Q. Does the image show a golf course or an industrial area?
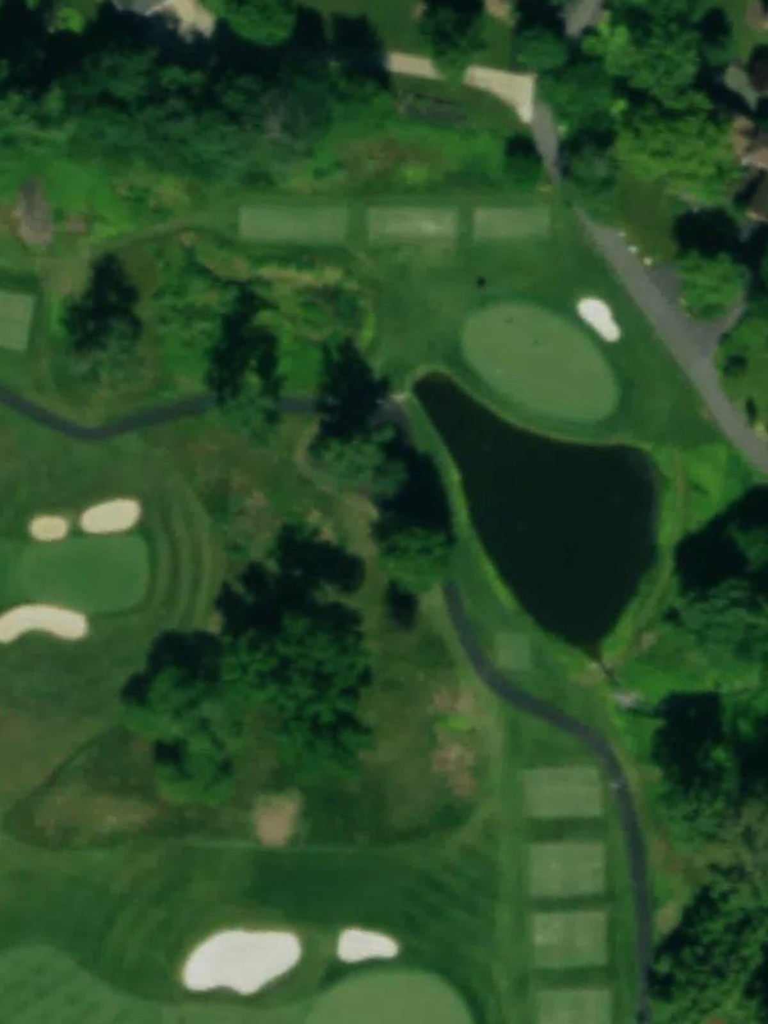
golf course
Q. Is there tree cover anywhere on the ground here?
Yes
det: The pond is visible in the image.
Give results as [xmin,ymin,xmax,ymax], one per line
[414,372,659,661]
